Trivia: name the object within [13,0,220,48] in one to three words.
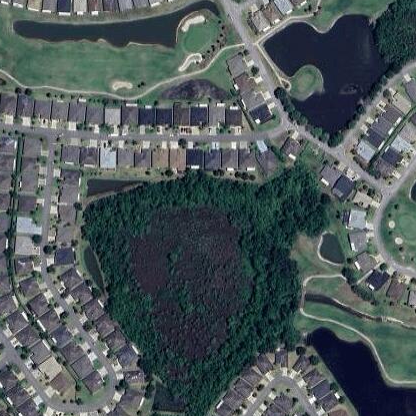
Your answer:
pond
